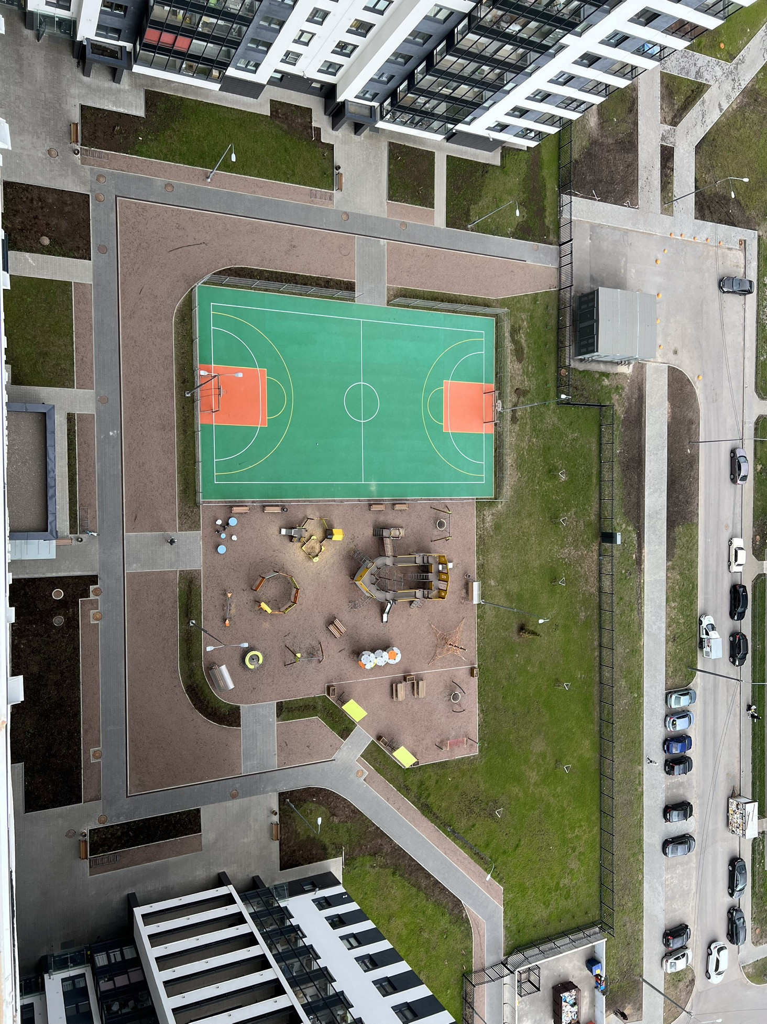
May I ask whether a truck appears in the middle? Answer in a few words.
No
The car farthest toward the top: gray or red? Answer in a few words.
gray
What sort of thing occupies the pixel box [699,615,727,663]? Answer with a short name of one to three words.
truck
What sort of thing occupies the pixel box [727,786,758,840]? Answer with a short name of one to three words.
trailer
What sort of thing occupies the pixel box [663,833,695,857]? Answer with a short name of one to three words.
car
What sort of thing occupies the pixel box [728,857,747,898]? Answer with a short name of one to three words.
car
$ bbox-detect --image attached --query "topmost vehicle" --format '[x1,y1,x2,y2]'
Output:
[716,274,746,296]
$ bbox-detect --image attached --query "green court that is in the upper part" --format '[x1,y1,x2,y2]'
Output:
[197,284,496,502]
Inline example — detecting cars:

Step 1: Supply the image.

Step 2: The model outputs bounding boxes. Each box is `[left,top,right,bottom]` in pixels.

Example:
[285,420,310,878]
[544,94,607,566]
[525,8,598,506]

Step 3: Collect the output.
[728,583,747,622]
[666,689,697,708]
[730,447,749,484]
[663,923,692,950]
[726,906,747,949]
[663,833,695,857]
[664,754,695,777]
[728,857,747,898]
[662,946,693,973]
[729,632,748,667]
[706,942,726,983]
[716,274,746,296]
[663,800,694,823]
[728,538,747,572]
[663,735,693,754]
[665,710,694,731]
